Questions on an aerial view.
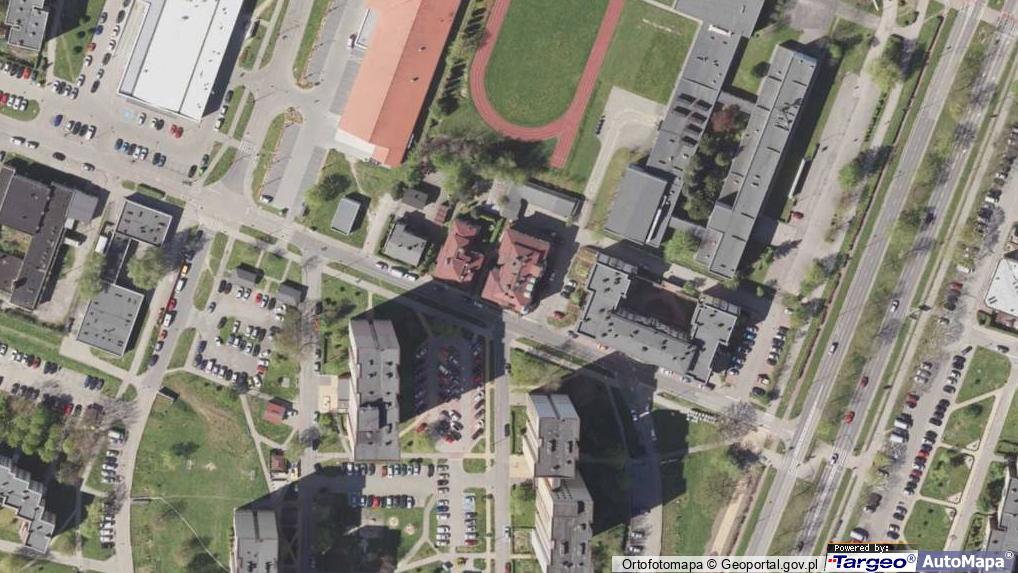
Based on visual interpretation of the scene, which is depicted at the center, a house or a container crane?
house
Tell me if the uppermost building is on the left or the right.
left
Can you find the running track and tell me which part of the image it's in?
top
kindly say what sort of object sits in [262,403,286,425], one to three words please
shed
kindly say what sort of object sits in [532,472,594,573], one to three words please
building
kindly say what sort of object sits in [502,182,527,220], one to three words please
building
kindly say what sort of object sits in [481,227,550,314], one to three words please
house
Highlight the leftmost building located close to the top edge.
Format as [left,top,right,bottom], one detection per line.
[6,0,50,51]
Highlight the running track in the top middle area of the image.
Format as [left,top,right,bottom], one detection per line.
[468,0,624,169]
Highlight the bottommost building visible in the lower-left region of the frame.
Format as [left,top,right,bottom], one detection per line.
[231,511,278,573]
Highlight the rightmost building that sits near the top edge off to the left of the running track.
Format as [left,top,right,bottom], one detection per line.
[335,0,460,167]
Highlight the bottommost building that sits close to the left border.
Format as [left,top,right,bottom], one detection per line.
[0,452,57,553]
